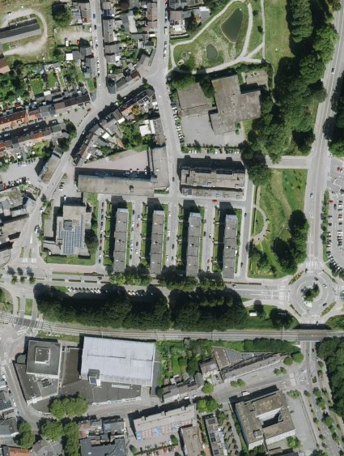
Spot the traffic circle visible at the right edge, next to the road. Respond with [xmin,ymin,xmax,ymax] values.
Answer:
[290,273,331,313]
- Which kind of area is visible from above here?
residential area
